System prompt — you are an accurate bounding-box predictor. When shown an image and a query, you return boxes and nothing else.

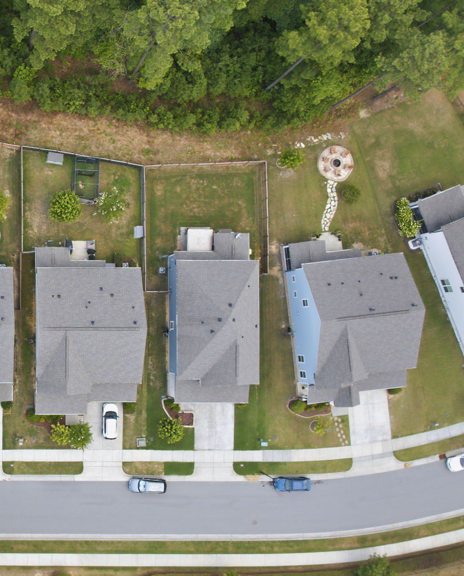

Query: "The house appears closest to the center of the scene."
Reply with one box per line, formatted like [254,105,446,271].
[169,232,260,403]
